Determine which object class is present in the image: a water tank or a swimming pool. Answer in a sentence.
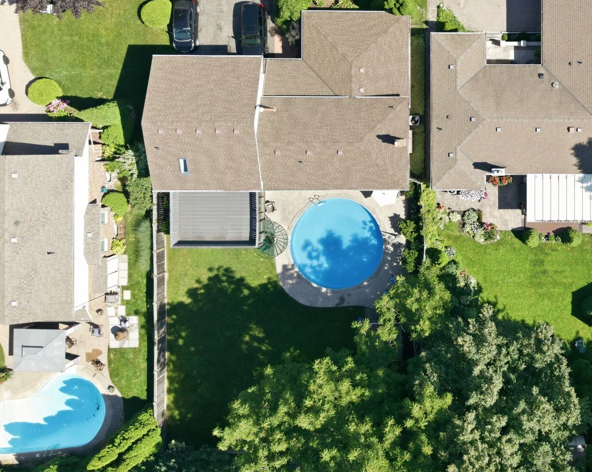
Visible in the photo is a swimming pool.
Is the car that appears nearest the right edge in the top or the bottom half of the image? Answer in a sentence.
The car that appears nearest the right edge sits in the top half of the picture.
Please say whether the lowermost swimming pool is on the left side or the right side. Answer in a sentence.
You can find the lowermost swimming pool on the left side of the picture.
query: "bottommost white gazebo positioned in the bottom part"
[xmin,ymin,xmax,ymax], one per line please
[13,321,83,374]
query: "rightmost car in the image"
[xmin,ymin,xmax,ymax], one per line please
[239,3,271,57]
